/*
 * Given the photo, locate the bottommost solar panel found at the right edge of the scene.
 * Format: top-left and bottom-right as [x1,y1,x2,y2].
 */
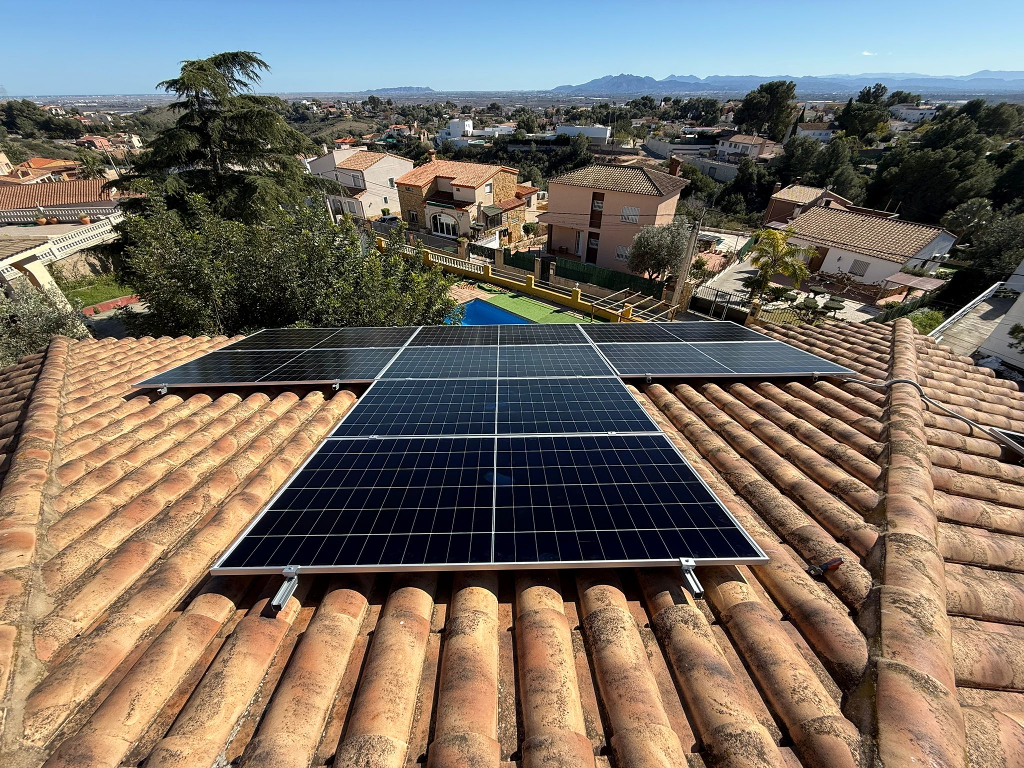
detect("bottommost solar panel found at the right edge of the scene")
[988,428,1024,457]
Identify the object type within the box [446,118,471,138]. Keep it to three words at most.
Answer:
house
